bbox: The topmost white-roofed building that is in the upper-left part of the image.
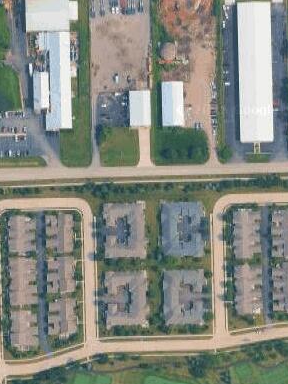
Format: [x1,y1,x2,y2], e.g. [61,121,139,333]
[25,0,79,32]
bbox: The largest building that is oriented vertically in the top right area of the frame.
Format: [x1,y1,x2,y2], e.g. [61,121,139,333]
[238,3,273,143]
